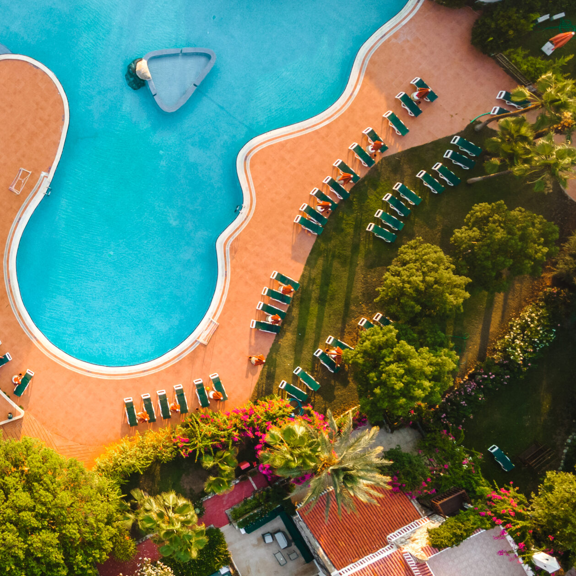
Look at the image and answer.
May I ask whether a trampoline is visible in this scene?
No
